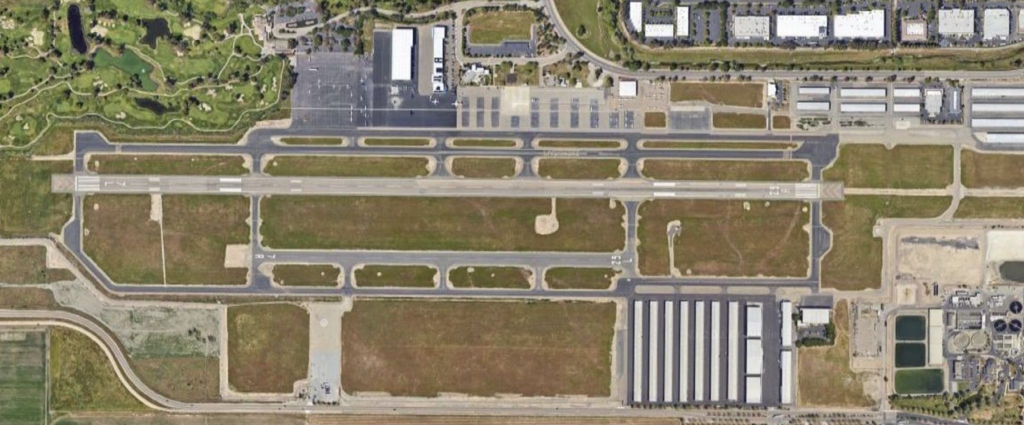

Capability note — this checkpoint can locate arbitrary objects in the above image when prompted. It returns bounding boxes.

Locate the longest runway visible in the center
[52,174,844,200]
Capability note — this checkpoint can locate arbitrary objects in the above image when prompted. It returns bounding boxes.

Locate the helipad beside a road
[294,297,350,403]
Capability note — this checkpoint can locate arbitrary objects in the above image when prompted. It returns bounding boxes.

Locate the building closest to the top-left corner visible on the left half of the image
[253,14,271,40]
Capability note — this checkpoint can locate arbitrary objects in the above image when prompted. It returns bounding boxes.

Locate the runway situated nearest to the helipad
[253,251,637,277]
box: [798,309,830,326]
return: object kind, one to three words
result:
hangar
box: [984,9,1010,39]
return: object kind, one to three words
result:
building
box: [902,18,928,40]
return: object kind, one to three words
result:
building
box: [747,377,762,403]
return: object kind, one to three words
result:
hangar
